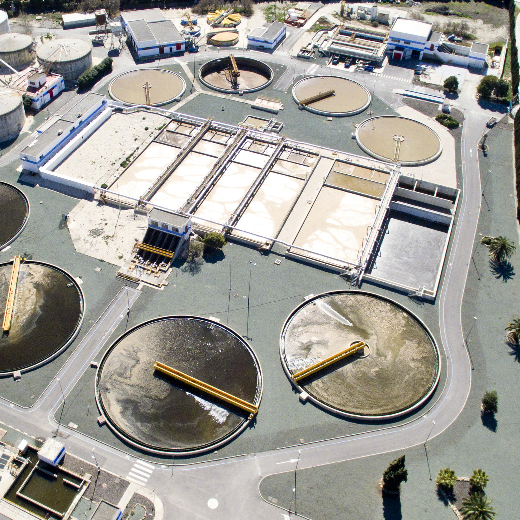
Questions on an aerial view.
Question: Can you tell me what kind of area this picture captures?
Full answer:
It's an industrial area.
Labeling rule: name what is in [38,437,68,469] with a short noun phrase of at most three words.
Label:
shed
